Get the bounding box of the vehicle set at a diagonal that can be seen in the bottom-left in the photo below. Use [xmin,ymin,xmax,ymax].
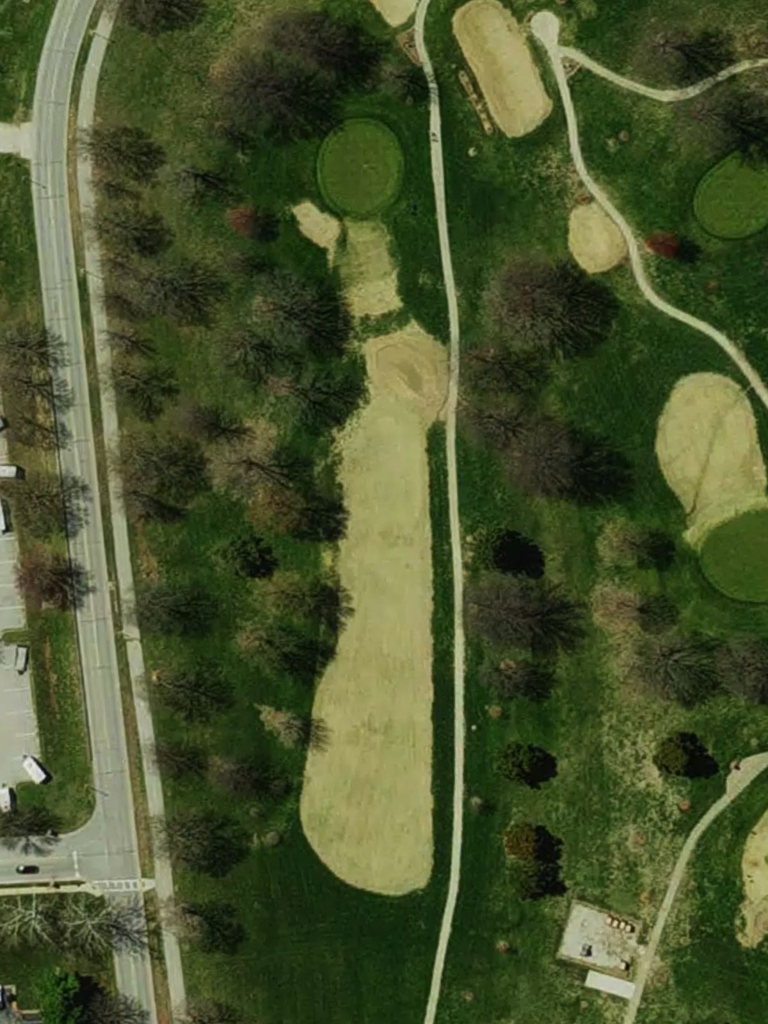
[22,756,47,784]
